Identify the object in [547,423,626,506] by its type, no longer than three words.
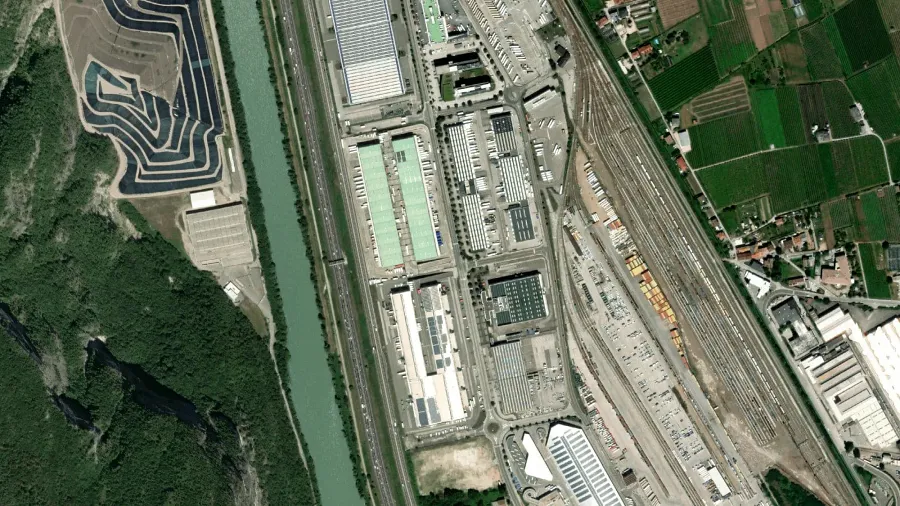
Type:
building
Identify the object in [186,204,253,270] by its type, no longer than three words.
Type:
building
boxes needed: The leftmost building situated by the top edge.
[330,0,405,105]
